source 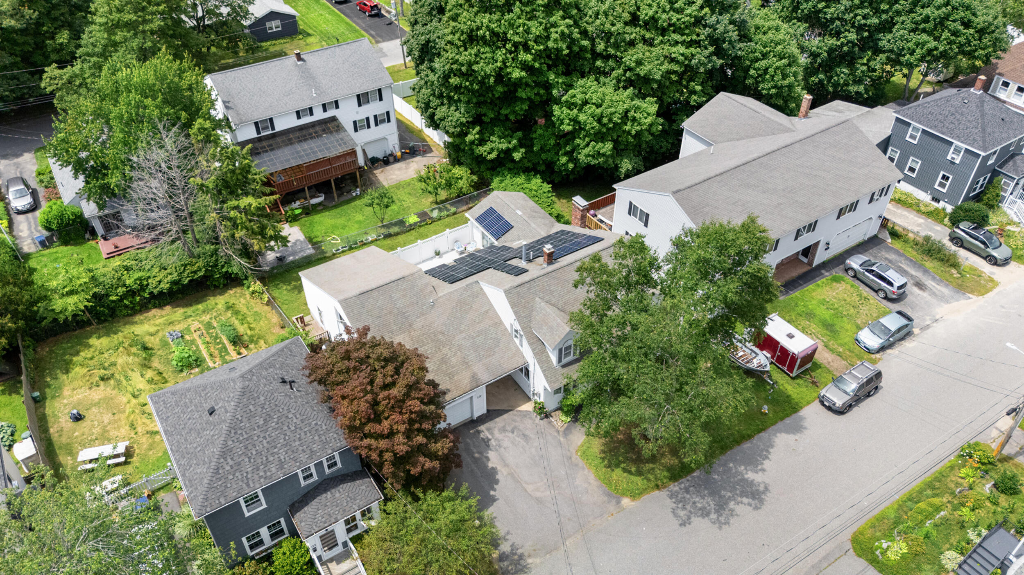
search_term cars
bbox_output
[357,0,378,15]
[847,259,914,302]
[816,358,888,415]
[946,223,1017,263]
[854,310,920,352]
[4,172,37,210]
